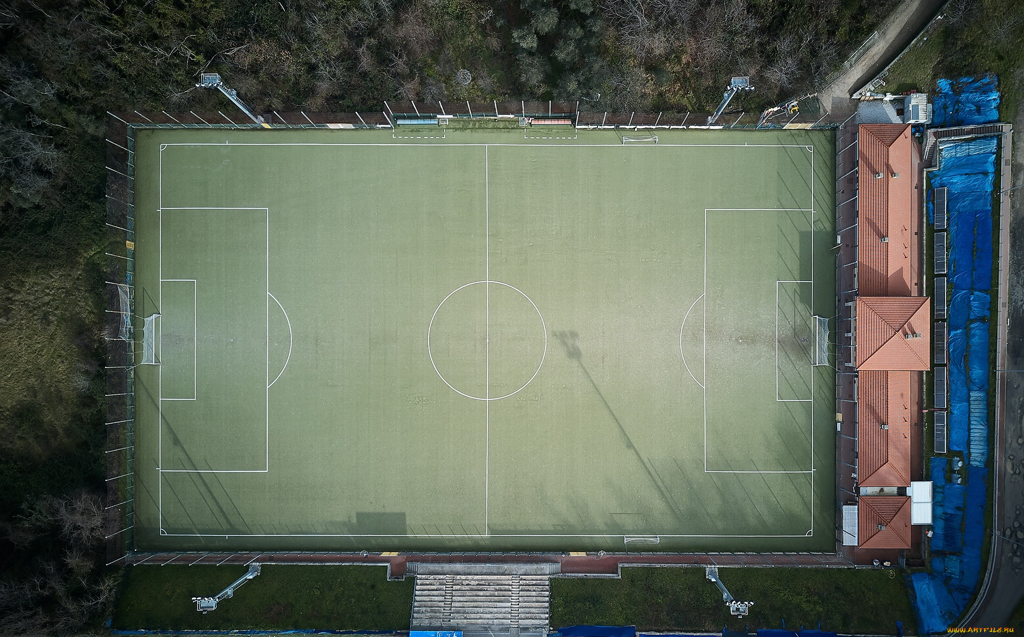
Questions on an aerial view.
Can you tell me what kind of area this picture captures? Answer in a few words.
sports ground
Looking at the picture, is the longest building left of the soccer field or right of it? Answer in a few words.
to its right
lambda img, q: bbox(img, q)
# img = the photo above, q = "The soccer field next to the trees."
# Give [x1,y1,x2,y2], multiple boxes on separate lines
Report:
[134,117,837,551]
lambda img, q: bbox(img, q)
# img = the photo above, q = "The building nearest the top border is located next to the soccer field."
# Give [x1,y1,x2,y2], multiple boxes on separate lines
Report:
[844,123,931,488]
